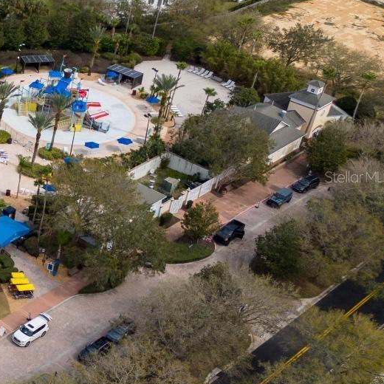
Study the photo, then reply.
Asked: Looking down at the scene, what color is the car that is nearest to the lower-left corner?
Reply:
white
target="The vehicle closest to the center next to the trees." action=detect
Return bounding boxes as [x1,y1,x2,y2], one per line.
[214,214,251,243]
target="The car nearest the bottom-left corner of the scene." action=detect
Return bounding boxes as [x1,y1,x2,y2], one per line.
[10,306,58,348]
